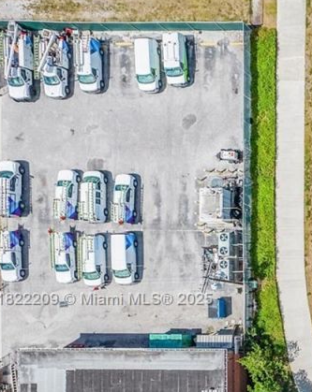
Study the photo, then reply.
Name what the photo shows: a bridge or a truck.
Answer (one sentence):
The one in the frame is a truck.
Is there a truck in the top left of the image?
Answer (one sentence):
Yes, I can see a truck in the top left of the image.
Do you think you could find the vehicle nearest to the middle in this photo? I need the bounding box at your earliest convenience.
[111,173,139,226]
